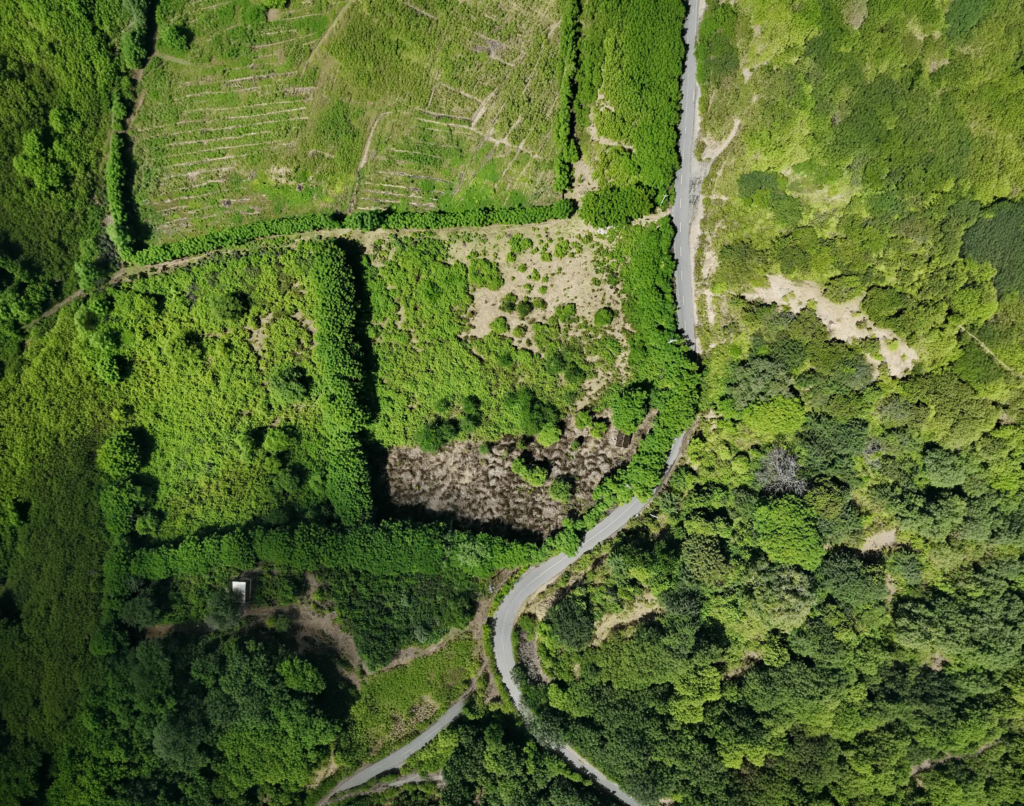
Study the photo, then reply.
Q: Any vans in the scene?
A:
No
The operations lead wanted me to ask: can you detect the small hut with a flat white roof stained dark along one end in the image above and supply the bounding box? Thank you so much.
[232,577,250,603]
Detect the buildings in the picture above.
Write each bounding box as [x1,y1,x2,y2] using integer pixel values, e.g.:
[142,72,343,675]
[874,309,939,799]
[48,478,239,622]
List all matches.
[614,423,630,447]
[232,577,250,603]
